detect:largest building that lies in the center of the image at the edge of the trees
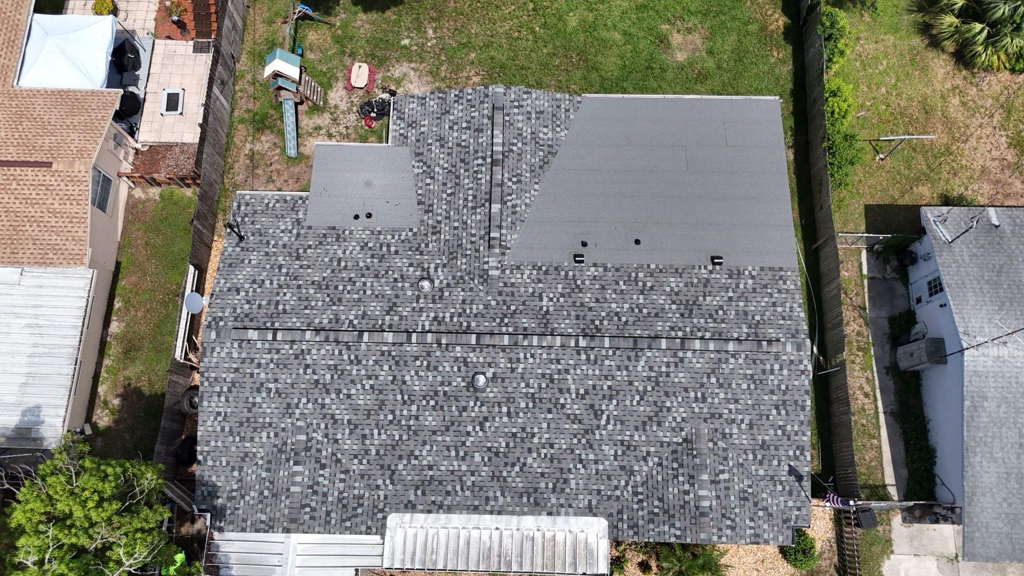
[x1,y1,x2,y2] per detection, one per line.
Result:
[193,86,814,549]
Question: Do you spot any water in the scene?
No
